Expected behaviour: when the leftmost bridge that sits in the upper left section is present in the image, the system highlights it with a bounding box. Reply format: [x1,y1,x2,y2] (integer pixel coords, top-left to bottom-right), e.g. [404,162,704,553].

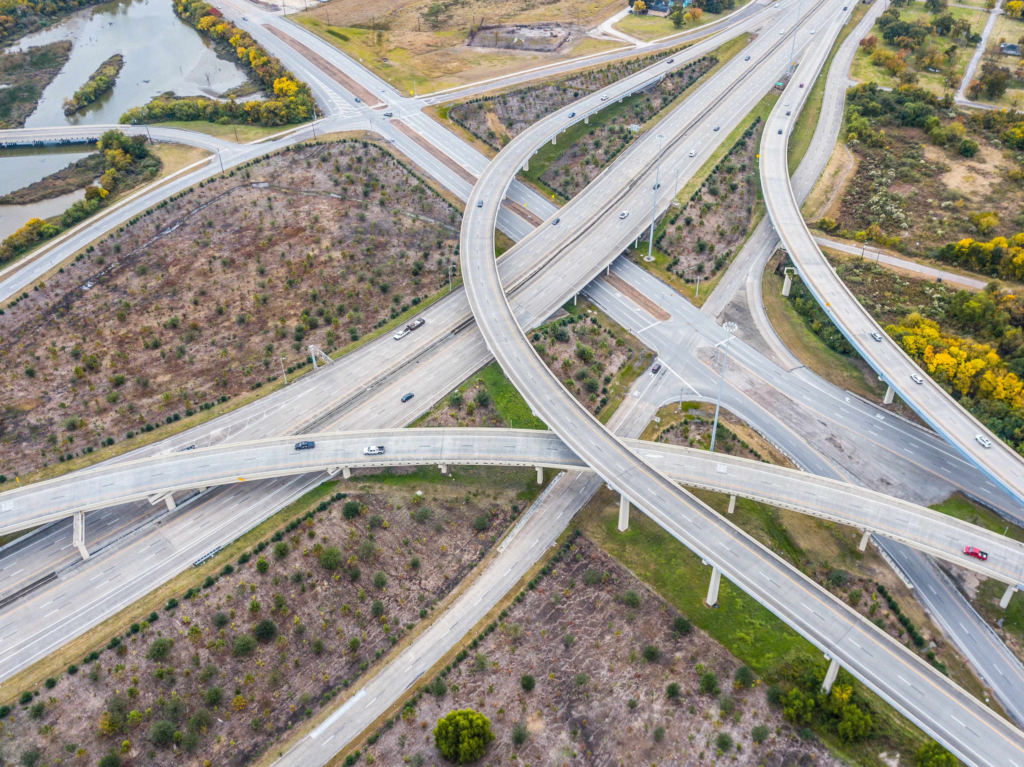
[0,124,136,147]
